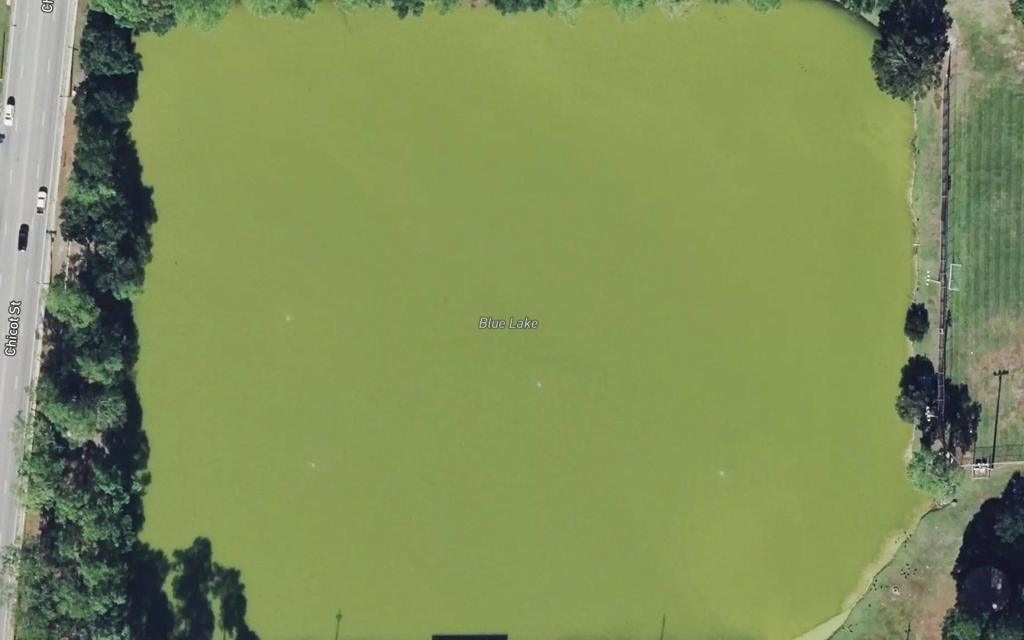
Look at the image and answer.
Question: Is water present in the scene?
Yes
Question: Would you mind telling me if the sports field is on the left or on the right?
right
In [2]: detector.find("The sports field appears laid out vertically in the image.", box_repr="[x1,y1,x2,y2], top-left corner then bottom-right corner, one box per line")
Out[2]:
[951,0,1024,465]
